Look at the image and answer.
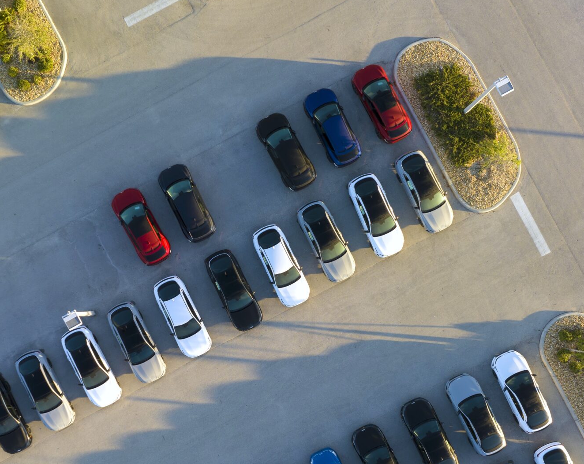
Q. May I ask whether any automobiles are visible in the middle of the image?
Yes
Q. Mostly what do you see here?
paved ground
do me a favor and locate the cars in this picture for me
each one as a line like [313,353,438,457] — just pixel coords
[350,174,401,256]
[495,350,552,433]
[311,446,344,464]
[207,249,259,331]
[255,224,305,306]
[405,397,457,464]
[400,150,453,233]
[300,199,353,282]
[18,349,69,432]
[0,376,31,456]
[355,423,399,464]
[154,276,207,357]
[109,302,163,384]
[450,373,506,456]
[62,326,115,409]
[534,441,572,464]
